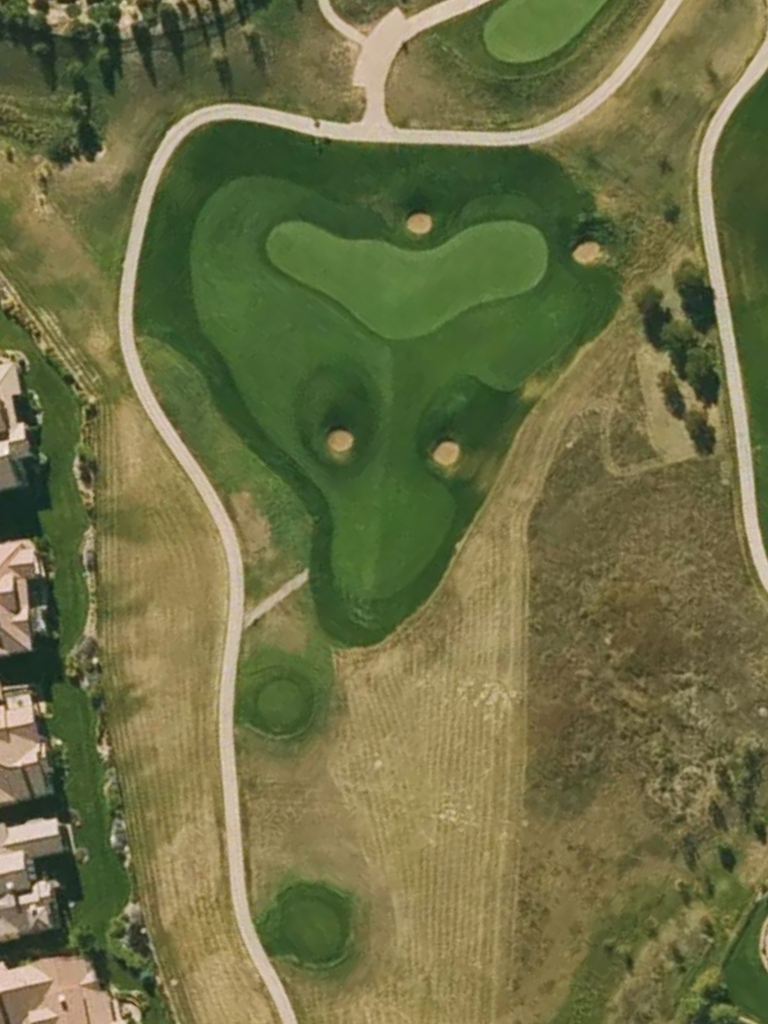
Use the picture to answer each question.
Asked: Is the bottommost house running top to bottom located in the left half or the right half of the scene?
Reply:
left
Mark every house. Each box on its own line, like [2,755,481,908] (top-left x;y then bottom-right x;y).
[0,692,45,807]
[0,538,33,653]
[0,354,27,490]
[0,816,60,950]
[0,955,119,1024]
